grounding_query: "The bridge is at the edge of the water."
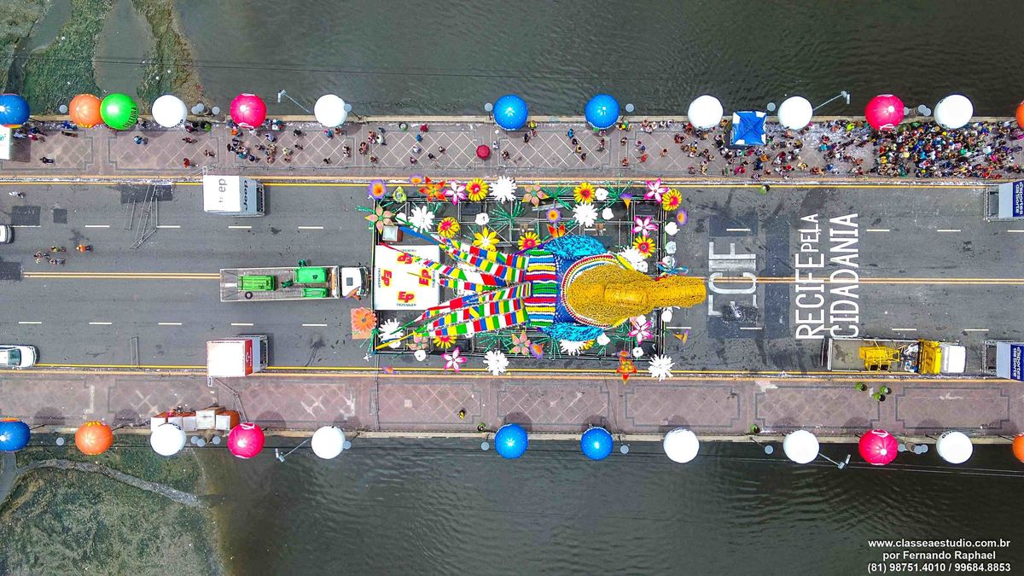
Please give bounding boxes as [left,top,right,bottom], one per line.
[0,114,1024,445]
